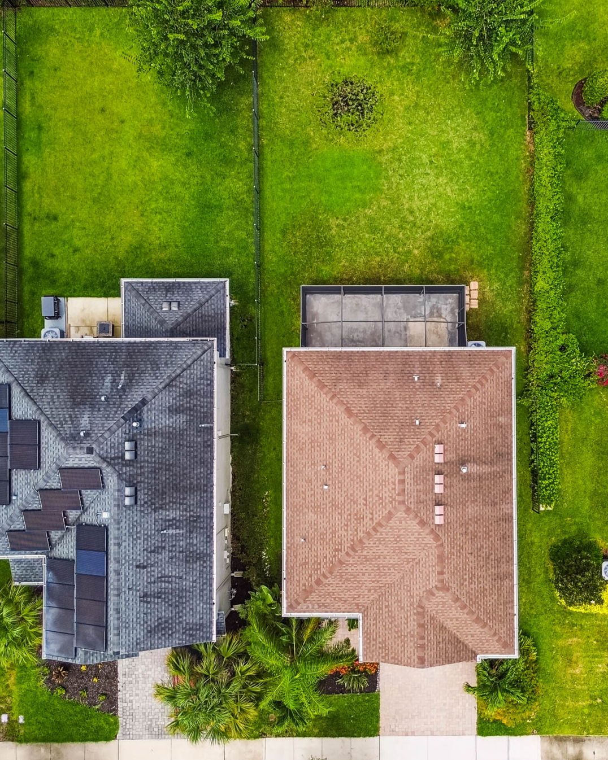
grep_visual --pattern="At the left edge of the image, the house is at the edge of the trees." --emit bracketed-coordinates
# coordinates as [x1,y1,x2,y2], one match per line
[0,276,243,666]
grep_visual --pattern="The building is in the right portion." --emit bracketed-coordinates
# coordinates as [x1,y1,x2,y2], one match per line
[280,287,520,672]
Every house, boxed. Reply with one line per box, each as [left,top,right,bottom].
[0,276,243,666]
[280,287,520,672]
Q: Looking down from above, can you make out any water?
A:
No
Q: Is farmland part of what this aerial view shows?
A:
No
